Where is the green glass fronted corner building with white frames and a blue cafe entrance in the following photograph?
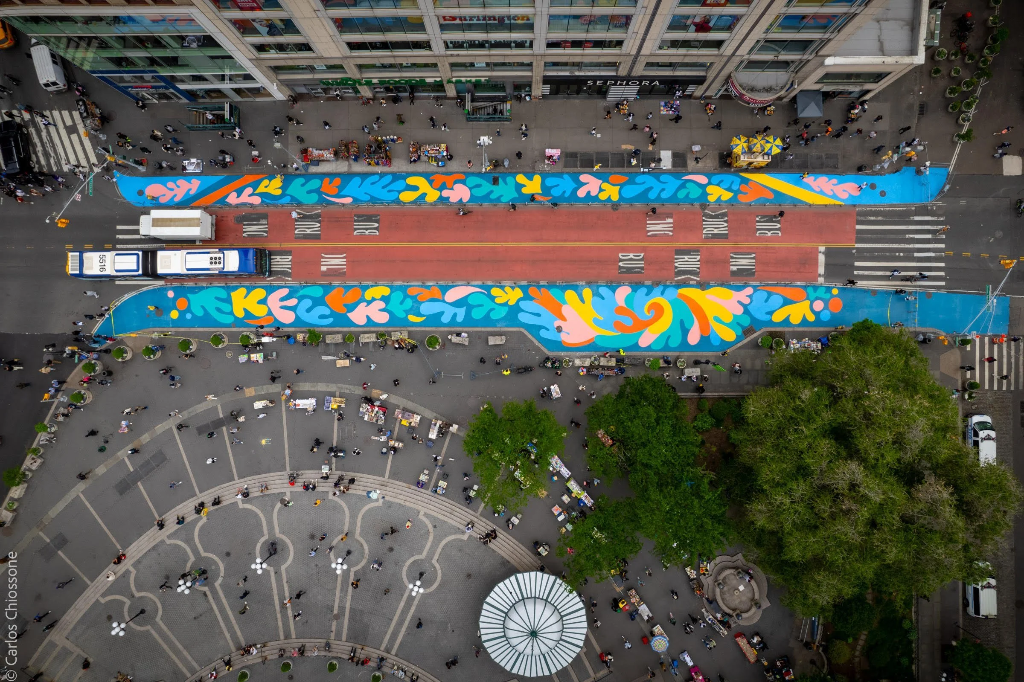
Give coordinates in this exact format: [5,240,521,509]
[0,0,284,103]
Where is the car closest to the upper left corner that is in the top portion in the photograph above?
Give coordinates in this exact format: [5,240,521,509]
[0,20,25,55]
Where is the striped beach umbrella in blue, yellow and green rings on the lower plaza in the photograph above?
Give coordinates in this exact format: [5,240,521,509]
[650,633,668,651]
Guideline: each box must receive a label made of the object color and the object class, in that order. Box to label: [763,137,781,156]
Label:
yellow umbrella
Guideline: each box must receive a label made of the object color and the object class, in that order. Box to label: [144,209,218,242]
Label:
white truck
